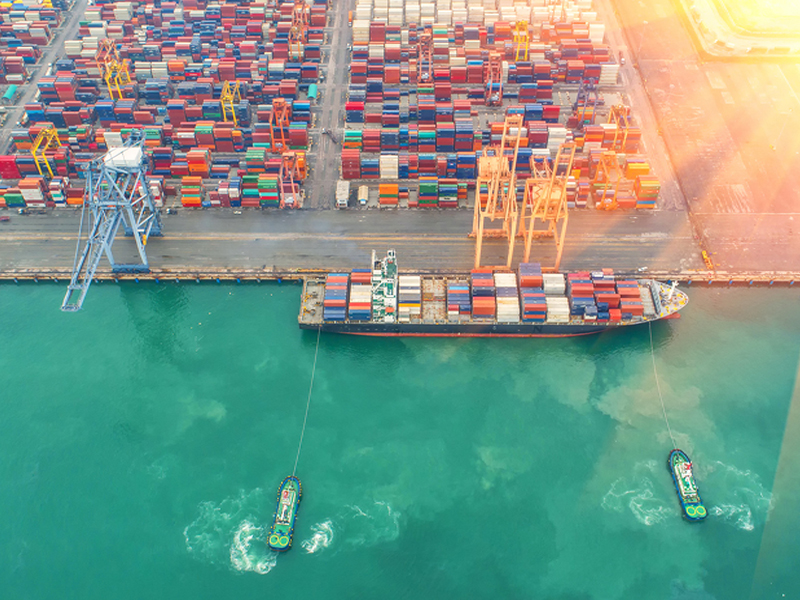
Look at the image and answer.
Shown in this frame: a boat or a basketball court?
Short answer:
boat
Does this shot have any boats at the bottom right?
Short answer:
Yes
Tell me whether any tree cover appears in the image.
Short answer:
No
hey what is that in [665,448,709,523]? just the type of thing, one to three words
boat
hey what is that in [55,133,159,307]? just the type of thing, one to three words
container crane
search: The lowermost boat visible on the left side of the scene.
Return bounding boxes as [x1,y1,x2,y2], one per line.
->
[266,474,302,553]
